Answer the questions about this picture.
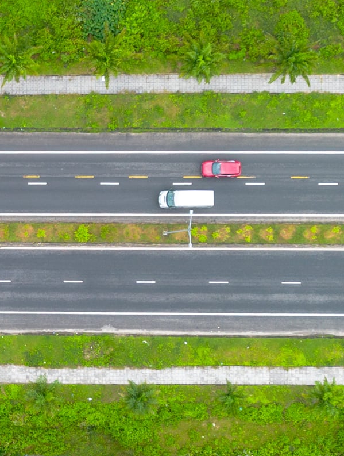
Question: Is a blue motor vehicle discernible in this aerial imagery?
No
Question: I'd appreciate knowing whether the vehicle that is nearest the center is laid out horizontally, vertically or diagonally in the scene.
horizontally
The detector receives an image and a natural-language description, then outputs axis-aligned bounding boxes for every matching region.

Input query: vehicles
[201,160,240,178]
[156,189,216,210]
